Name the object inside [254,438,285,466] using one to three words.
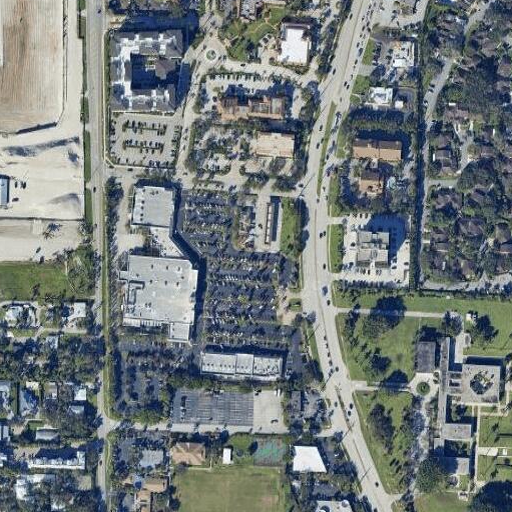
sports court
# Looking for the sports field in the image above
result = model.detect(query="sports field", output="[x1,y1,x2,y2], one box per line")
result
[176,466,283,512]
